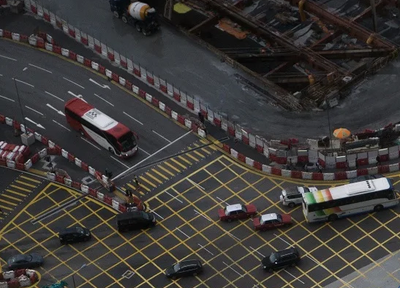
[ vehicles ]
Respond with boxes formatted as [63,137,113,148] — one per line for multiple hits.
[110,0,161,33]
[261,248,298,270]
[166,258,201,277]
[116,207,154,231]
[8,250,43,268]
[282,185,314,205]
[65,100,137,156]
[303,177,399,220]
[59,227,90,244]
[254,213,291,230]
[220,203,255,220]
